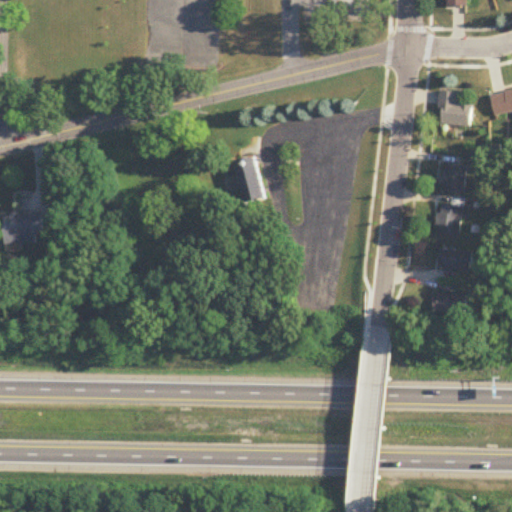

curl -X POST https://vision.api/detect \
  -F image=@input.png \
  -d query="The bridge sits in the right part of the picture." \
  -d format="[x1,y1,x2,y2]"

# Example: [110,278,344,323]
[344,334,390,512]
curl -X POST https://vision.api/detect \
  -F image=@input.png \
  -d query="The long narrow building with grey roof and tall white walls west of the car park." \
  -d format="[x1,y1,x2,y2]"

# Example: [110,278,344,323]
[242,156,266,200]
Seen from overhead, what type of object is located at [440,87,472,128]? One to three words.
house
